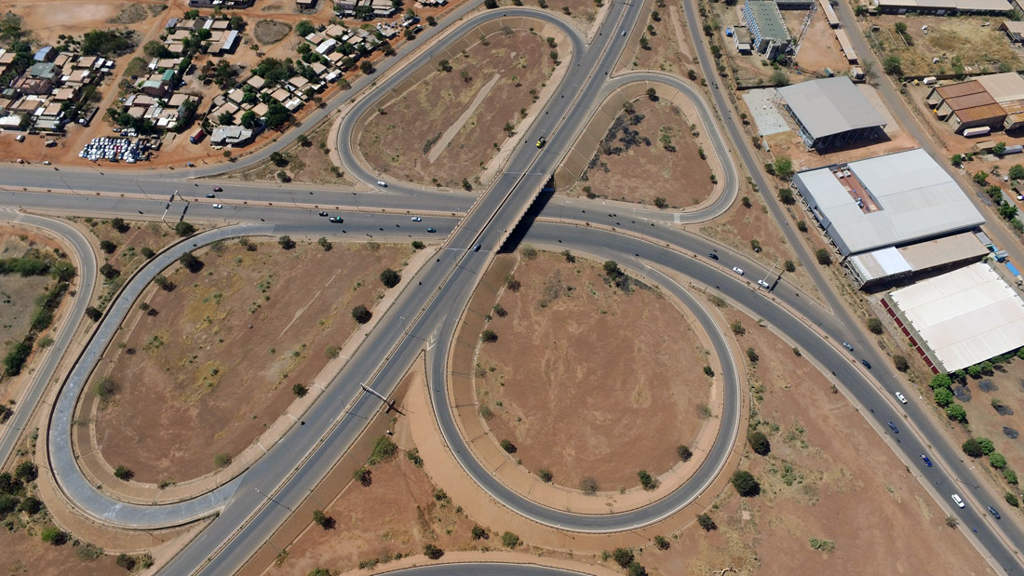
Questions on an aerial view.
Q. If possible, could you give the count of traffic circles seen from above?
0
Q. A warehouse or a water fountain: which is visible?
warehouse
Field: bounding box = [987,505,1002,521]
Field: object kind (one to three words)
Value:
car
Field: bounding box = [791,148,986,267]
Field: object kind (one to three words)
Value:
warehouse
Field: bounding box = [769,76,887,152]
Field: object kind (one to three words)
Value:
building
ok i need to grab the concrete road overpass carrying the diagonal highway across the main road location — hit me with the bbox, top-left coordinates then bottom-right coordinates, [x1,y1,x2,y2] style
[429,170,579,264]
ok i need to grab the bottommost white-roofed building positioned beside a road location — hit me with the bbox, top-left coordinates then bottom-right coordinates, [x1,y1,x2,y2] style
[876,261,1024,381]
